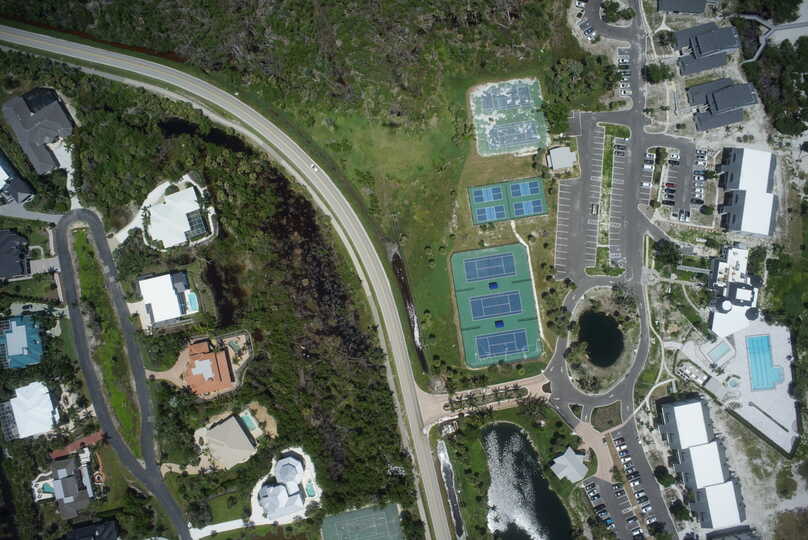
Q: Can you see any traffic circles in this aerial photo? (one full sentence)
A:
Yes, a traffic circle is visible in the scene.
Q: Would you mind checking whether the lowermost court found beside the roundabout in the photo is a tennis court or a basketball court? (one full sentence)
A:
The lowermost court found beside the roundabout in the image is a tennis court.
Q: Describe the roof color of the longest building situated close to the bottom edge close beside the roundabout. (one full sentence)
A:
The color of the roof on the longest building situated close to the bottom edge close beside the roundabout is white.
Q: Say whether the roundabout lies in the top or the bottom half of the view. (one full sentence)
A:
You can find the roundabout in the bottom half.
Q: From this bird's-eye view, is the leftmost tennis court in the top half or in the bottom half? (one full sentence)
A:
The bottom half of the photo is where the leftmost tennis court is.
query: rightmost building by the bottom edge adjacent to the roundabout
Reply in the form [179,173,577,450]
[652,395,746,529]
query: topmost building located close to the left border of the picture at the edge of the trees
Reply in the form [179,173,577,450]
[6,88,78,174]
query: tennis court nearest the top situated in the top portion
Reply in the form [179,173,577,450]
[470,78,545,121]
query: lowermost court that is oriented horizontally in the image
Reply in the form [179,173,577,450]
[324,504,402,540]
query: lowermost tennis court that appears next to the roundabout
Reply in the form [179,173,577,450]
[462,318,544,368]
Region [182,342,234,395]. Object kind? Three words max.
house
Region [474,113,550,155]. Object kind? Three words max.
tennis court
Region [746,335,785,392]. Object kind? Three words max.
swimming pool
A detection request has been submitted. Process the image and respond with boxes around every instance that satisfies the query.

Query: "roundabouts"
[542,282,649,432]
